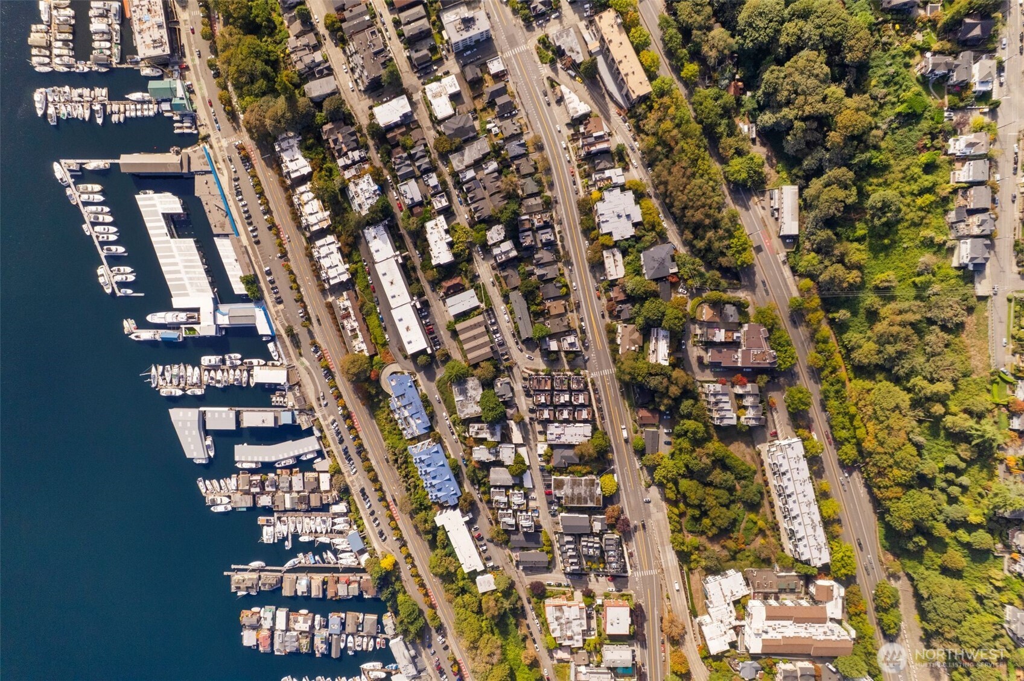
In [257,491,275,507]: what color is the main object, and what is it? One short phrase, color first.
white boat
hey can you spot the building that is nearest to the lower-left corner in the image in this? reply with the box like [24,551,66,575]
[171,407,212,461]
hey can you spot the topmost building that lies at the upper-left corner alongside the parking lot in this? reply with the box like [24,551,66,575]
[131,0,178,65]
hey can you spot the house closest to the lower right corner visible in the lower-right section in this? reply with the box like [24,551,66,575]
[994,602,1024,646]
